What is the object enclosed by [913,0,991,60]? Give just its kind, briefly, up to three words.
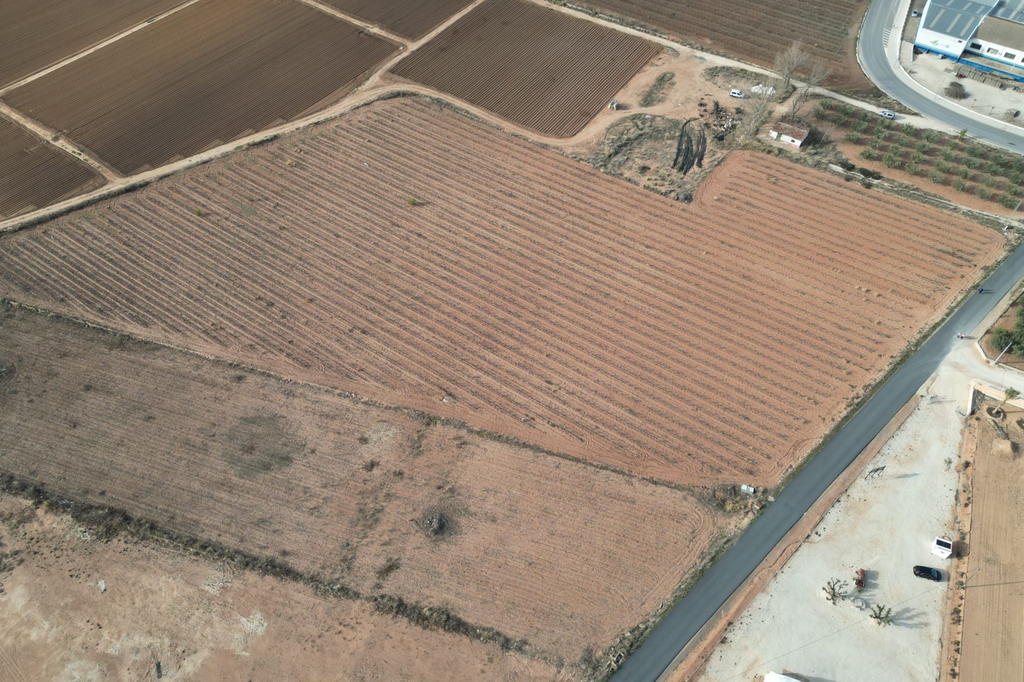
building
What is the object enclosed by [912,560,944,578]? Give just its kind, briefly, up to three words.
car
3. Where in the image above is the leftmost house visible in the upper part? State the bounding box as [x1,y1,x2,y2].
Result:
[770,119,809,147]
